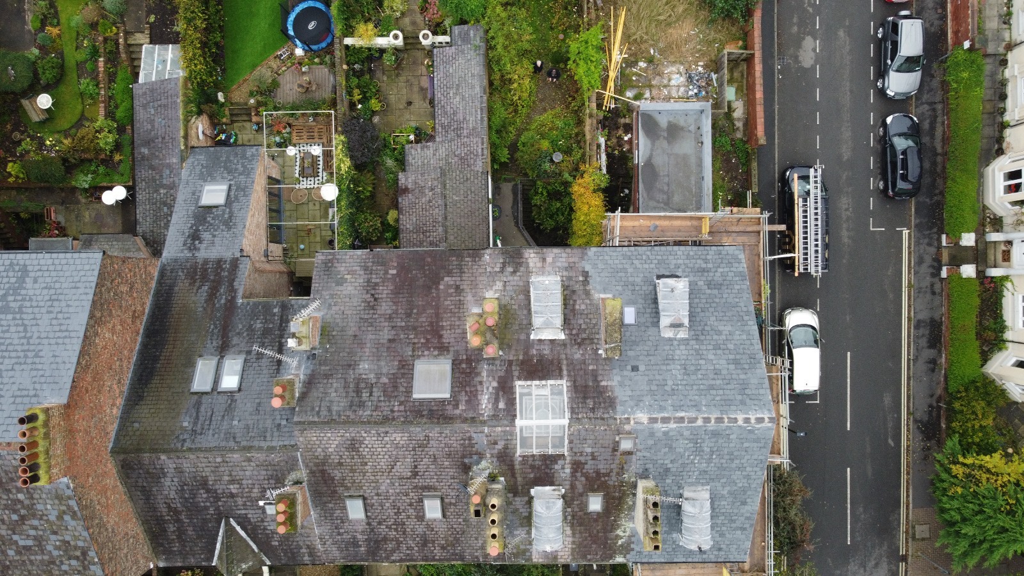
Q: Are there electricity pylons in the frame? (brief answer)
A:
No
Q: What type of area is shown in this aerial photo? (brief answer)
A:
residential area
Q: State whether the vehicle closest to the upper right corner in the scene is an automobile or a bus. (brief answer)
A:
automobile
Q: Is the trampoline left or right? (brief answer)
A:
left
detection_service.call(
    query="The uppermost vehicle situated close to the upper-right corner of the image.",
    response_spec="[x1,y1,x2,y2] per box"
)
[877,11,928,99]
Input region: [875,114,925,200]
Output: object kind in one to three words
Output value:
car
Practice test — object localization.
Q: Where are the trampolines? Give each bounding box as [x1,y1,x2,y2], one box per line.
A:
[277,0,330,55]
